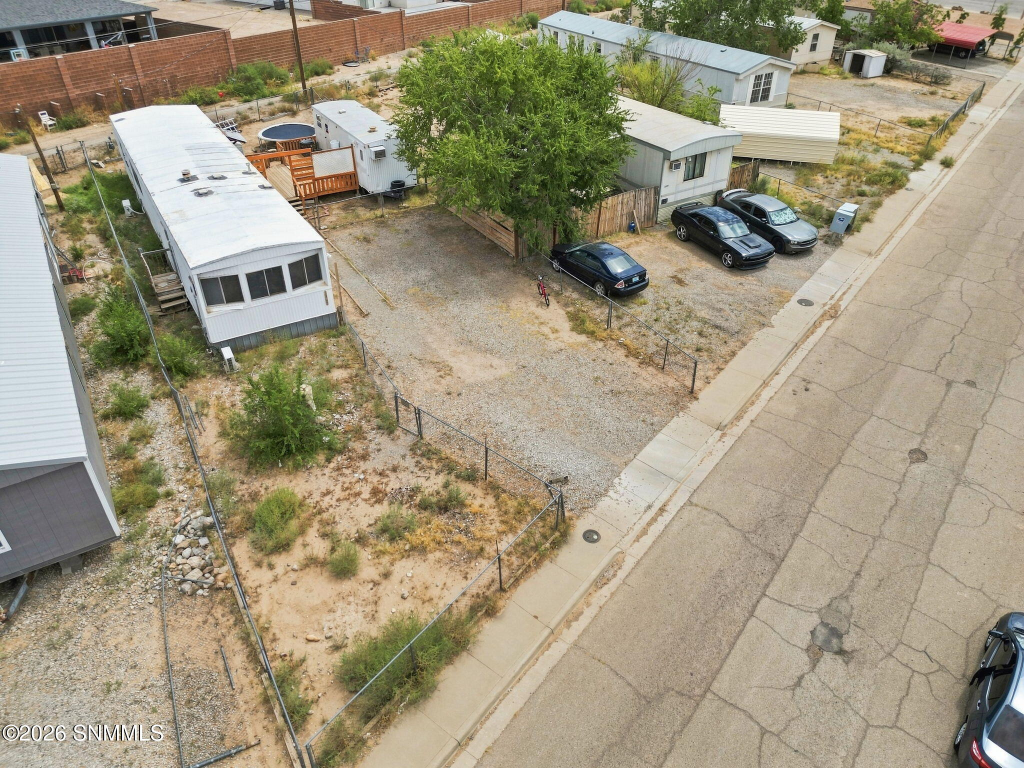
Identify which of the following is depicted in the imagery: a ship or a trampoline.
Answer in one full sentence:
There is a trampoline in the scene.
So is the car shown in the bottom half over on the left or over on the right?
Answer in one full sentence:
The car shown in the bottom half is on the right side of the image.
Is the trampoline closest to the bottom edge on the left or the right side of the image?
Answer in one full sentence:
You can find the trampoline closest to the bottom edge on the left side of the picture.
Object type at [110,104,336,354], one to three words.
house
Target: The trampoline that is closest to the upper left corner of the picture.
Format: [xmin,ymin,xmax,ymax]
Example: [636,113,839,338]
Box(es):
[251,121,313,152]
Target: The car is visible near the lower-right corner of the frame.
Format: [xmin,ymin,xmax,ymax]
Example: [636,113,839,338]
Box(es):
[951,602,1024,768]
